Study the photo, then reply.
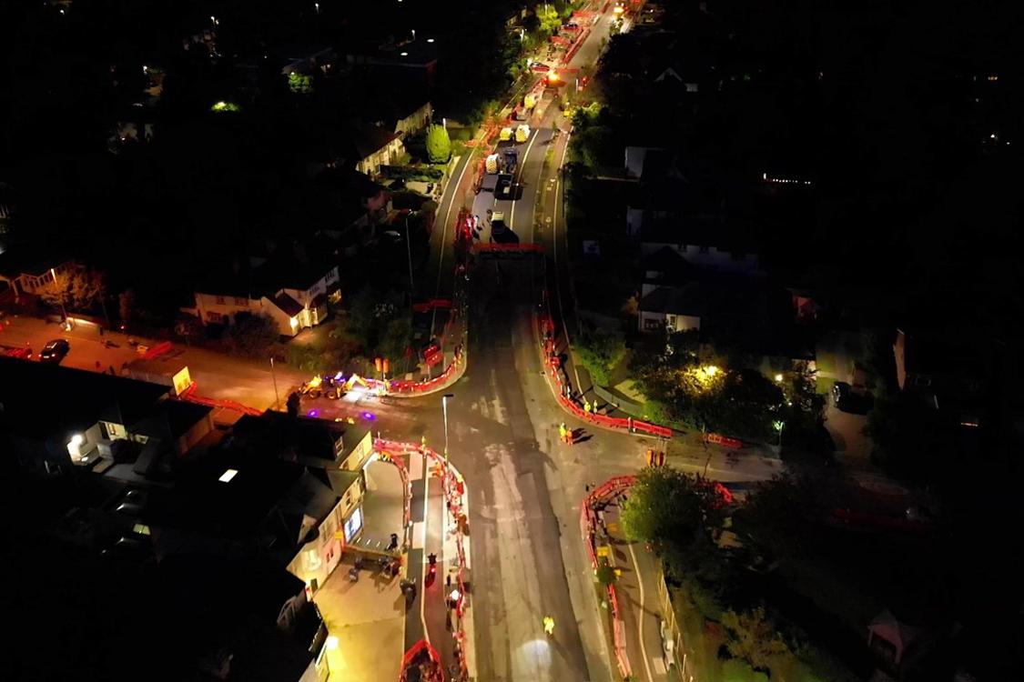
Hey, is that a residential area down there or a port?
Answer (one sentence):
It's a residential area.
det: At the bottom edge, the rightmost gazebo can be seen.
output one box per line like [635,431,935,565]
[862,599,927,676]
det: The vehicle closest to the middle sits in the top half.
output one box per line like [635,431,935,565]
[490,214,505,235]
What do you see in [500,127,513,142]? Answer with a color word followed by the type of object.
yellow vehicle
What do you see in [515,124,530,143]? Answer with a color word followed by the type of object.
yellow vehicle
